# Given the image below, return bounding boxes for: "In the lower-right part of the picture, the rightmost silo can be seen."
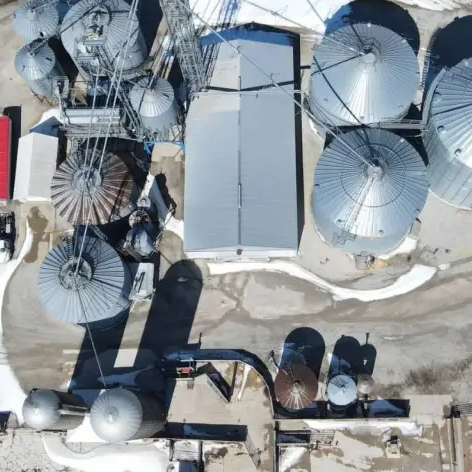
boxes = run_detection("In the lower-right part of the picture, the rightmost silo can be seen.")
[354,374,375,398]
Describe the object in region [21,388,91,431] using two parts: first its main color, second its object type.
gray silo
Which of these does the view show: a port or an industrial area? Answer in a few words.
industrial area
